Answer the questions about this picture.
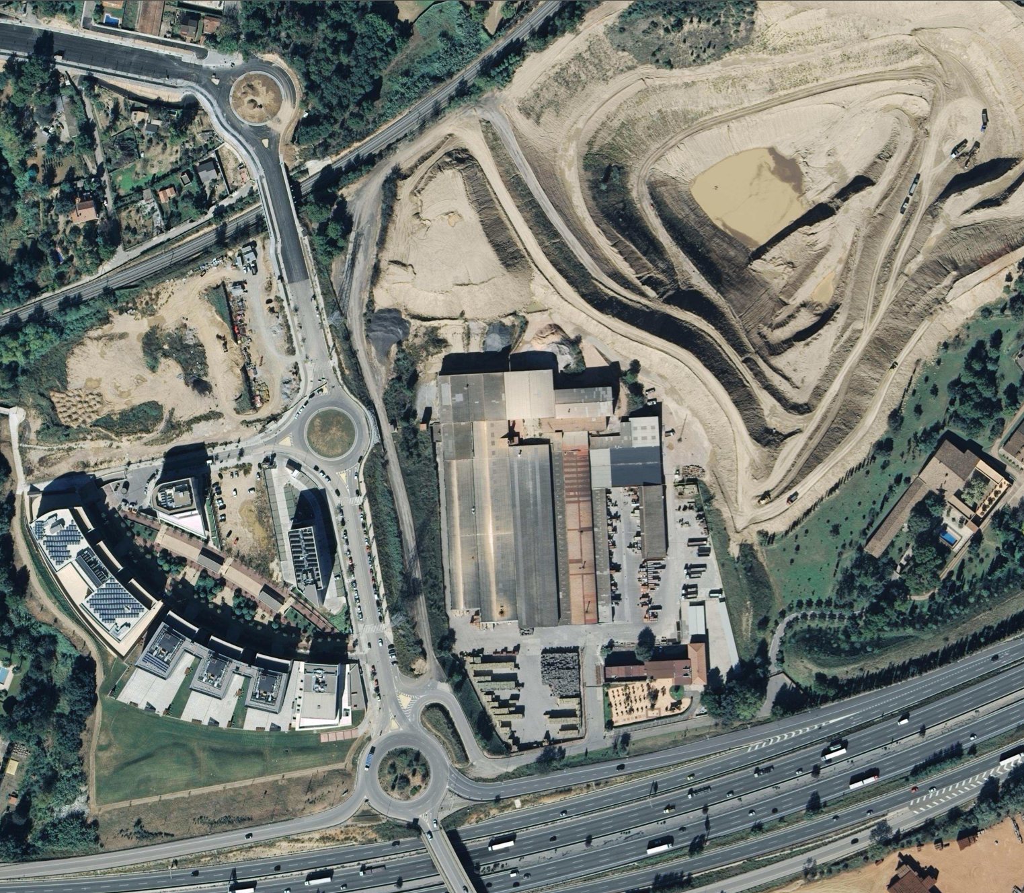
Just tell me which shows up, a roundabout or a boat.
roundabout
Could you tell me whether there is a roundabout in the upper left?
Yes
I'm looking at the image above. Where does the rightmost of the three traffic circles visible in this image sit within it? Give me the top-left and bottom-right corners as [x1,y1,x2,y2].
[360,730,449,823]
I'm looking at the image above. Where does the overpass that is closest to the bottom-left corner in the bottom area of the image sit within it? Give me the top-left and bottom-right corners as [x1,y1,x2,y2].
[417,822,477,893]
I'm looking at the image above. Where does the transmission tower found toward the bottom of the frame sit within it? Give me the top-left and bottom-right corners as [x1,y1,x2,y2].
[392,611,407,629]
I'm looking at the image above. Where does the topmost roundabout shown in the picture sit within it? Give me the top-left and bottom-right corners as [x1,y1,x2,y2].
[219,60,295,137]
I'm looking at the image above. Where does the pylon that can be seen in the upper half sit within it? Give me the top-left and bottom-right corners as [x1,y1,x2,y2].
[328,311,343,329]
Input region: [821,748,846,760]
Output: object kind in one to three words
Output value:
vehicle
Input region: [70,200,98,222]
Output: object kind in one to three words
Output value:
house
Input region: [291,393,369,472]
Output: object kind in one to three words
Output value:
roundabout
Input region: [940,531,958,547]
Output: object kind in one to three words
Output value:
swimming pool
